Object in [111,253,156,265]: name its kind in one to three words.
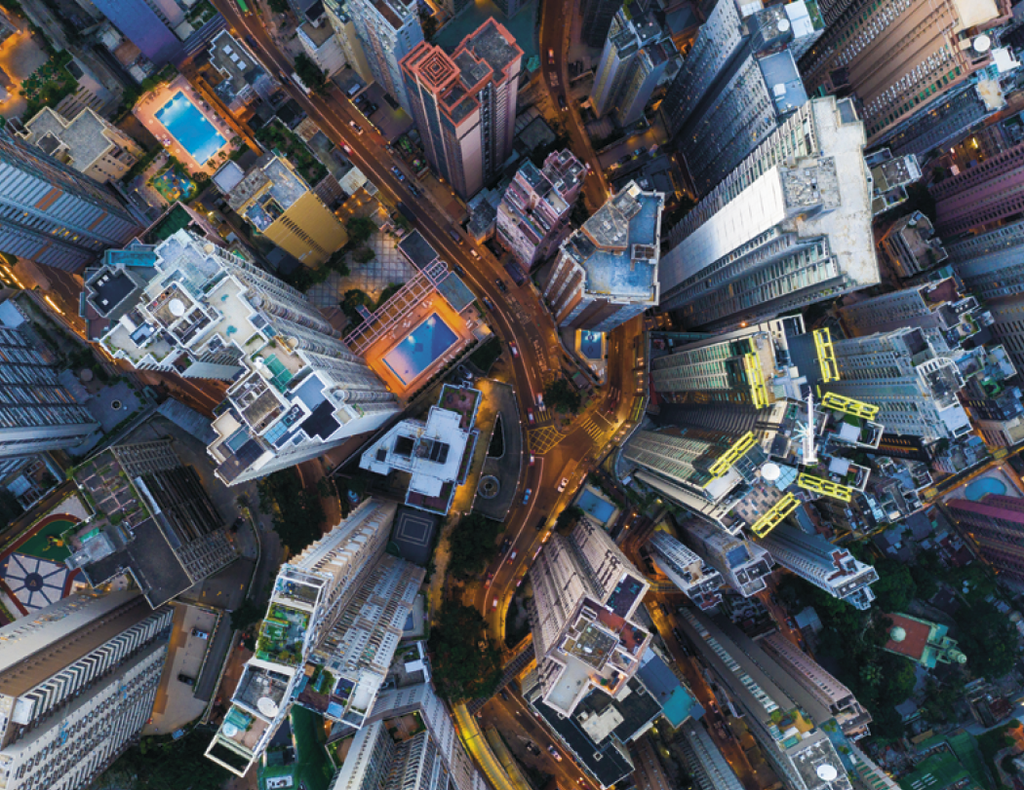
swimming pool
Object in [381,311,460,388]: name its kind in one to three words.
swimming pool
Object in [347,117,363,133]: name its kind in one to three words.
vehicle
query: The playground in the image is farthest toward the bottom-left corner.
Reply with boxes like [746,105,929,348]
[0,491,90,622]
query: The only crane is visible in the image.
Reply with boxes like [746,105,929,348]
[794,379,818,463]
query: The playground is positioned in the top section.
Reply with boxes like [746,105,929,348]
[152,164,194,203]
